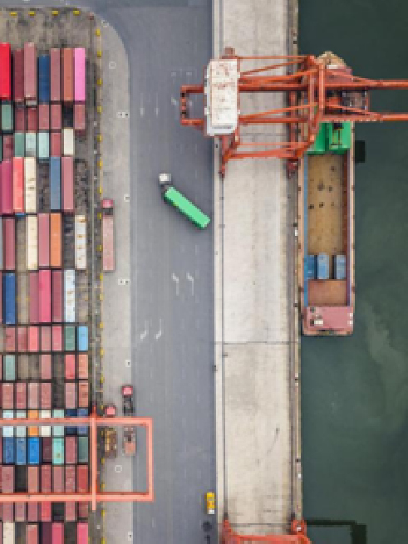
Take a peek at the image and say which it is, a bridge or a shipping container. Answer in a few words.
shipping container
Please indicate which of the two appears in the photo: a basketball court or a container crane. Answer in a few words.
container crane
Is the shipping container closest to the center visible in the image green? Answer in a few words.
Yes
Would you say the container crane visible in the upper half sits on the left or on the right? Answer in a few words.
right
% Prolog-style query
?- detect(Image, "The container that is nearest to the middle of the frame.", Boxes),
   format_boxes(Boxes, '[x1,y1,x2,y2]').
[164,187,211,231]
